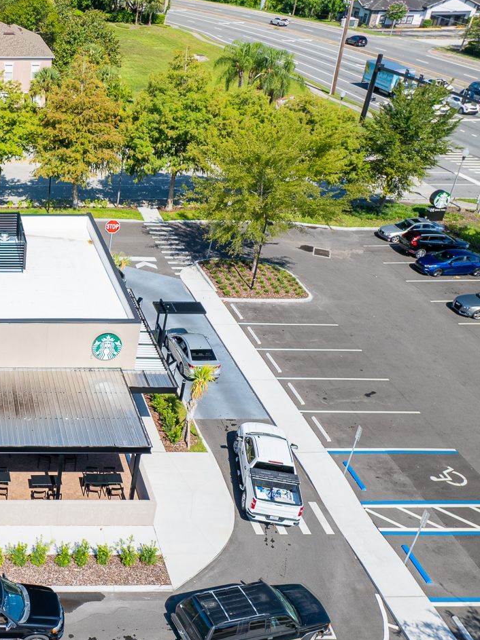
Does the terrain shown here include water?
No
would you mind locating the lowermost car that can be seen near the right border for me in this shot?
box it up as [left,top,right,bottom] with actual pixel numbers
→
[448,284,480,318]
